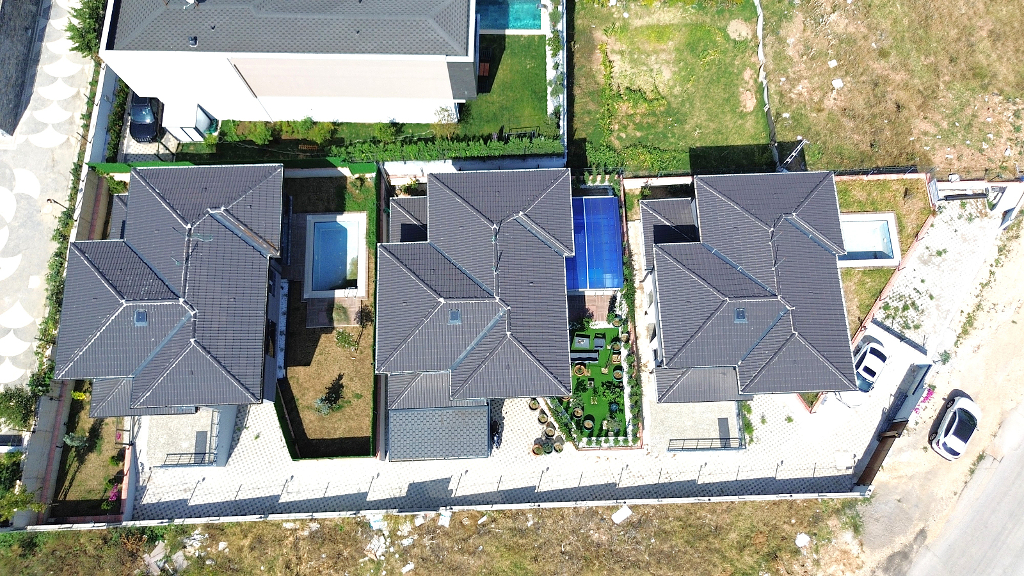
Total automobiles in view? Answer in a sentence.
The photo contains 3 automobiles.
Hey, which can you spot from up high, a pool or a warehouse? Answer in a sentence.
Looking from above, you can make out a pool.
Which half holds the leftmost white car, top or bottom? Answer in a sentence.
Seen from above, the leftmost white car lies in the bottom half of the view.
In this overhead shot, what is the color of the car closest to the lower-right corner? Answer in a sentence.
In this view, the car closest to the lower-right corner is white.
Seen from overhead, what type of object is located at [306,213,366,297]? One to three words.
swimming pool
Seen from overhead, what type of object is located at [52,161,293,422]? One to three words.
house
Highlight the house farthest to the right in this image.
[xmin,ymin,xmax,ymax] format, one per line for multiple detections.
[638,169,858,409]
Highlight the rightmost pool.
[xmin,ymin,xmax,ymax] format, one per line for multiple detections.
[838,214,903,265]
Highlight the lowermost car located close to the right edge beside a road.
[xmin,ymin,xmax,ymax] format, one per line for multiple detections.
[930,395,982,465]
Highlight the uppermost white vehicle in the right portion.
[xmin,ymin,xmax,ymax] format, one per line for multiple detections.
[841,341,886,410]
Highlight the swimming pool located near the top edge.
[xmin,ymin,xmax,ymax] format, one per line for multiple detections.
[485,0,548,34]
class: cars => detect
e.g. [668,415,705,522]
[121,86,163,146]
[930,395,982,465]
[841,341,886,410]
